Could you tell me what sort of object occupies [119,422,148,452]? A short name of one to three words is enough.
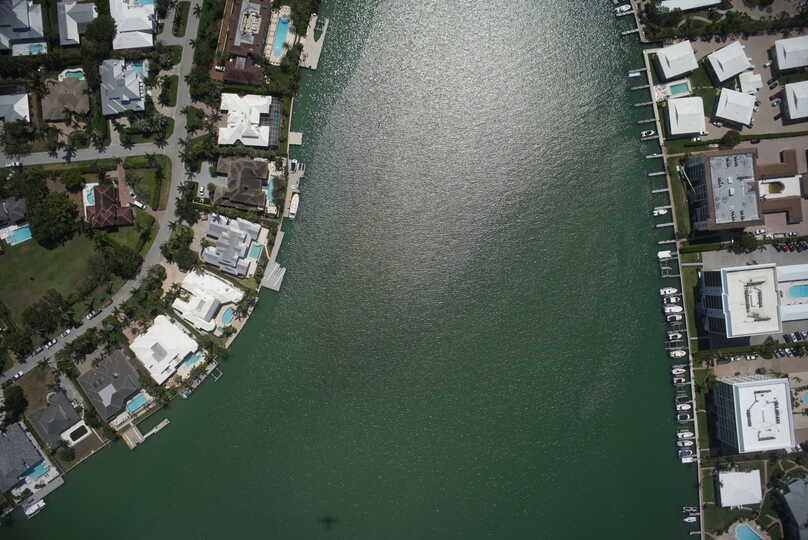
pier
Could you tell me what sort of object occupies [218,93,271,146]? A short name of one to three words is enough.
house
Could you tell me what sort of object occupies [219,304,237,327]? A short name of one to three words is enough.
swimming pool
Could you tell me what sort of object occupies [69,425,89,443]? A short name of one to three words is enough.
swimming pool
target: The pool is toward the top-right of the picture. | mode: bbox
[670,81,690,96]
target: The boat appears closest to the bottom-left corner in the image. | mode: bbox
[25,499,46,514]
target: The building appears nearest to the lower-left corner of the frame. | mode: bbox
[0,422,47,491]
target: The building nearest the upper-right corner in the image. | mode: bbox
[769,34,808,72]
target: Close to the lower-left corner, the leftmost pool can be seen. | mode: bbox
[26,461,50,482]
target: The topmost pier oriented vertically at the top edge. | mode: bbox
[299,13,329,69]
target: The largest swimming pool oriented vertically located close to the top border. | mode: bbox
[271,14,290,57]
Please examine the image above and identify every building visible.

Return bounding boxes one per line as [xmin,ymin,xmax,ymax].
[58,1,99,47]
[775,467,808,540]
[778,81,808,120]
[703,41,753,84]
[222,0,272,88]
[218,93,271,146]
[653,40,698,81]
[0,422,47,491]
[0,0,45,49]
[101,60,147,115]
[710,88,756,126]
[656,0,721,14]
[43,77,90,121]
[130,315,200,384]
[714,373,796,454]
[0,94,32,121]
[689,147,767,231]
[172,272,245,332]
[703,263,784,339]
[110,0,155,51]
[78,351,143,419]
[214,158,268,212]
[32,393,82,448]
[92,184,135,227]
[0,197,28,222]
[769,34,808,72]
[664,97,705,136]
[200,212,260,276]
[713,466,762,507]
